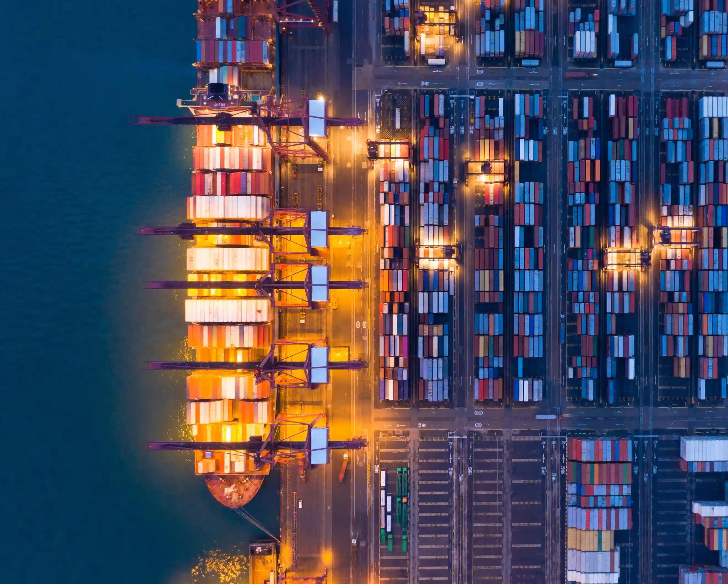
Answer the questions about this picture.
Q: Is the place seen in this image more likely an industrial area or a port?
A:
port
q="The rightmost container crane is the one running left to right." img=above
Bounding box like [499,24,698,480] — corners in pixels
[644,226,700,248]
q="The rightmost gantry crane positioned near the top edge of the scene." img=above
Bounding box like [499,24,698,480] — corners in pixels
[412,10,460,41]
